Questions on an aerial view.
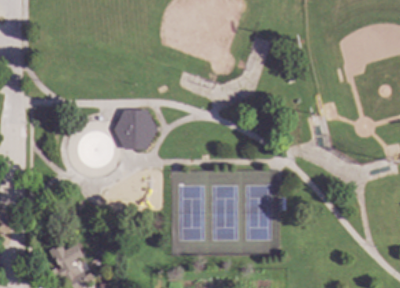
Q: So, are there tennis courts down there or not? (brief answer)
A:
Yes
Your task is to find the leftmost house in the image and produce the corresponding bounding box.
[45,243,89,281]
